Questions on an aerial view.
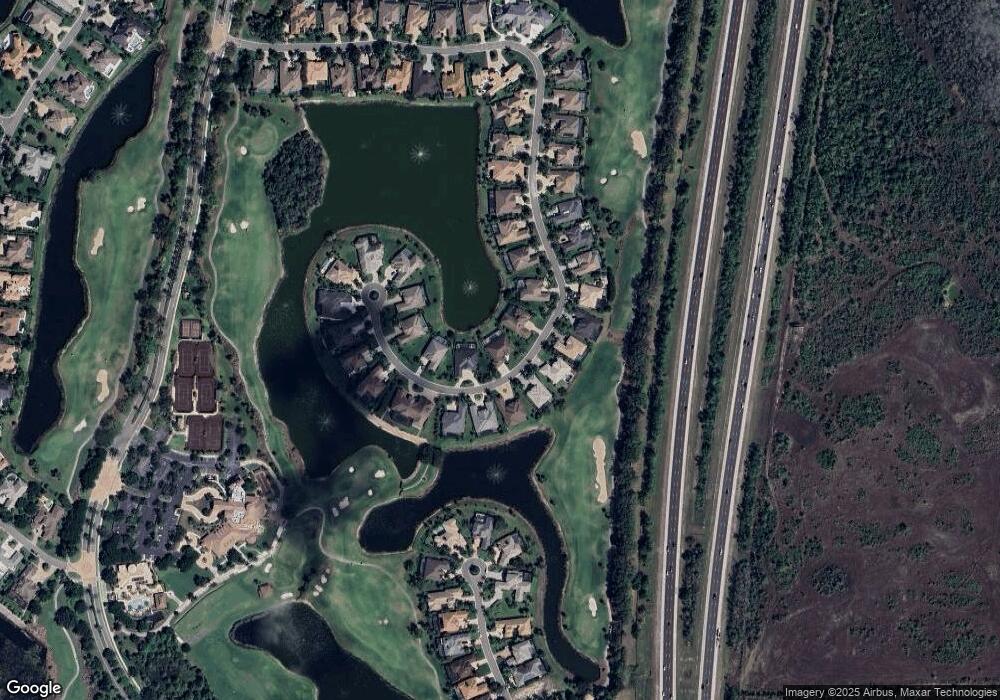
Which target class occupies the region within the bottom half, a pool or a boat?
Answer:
pool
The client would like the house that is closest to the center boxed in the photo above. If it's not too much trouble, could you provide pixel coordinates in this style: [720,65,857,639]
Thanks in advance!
[482,328,512,361]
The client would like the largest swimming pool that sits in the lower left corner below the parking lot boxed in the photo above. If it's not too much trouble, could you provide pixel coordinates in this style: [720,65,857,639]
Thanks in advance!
[114,582,163,618]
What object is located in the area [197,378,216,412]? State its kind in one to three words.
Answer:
tennis court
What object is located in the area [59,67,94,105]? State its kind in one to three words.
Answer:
house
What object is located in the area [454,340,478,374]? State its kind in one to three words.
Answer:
house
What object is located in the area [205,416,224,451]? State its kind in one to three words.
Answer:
tennis court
